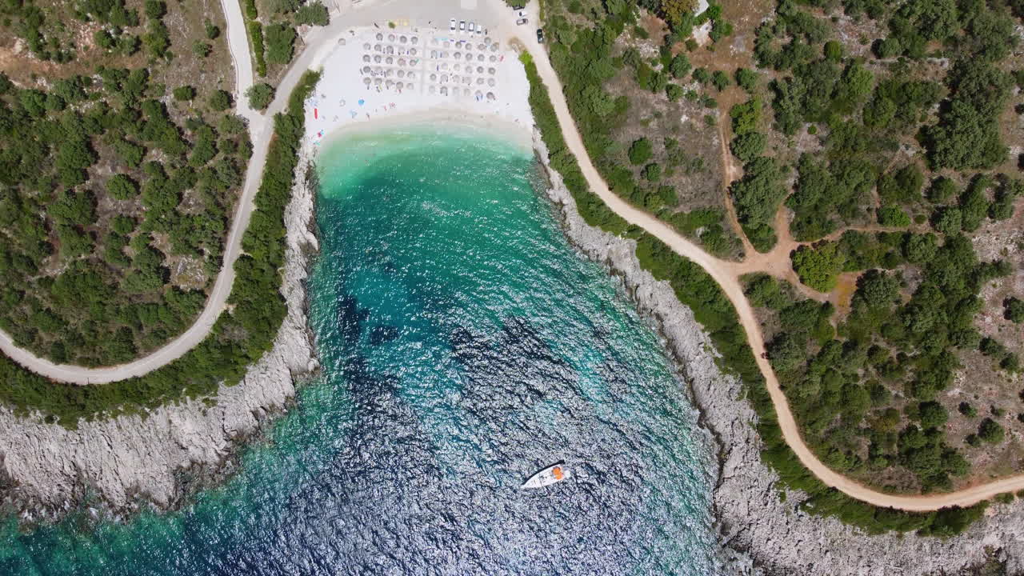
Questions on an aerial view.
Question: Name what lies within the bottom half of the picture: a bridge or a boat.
boat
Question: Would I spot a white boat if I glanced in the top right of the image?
No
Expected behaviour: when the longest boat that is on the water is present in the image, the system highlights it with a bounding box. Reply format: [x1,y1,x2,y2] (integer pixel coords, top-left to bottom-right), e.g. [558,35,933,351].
[521,464,568,489]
